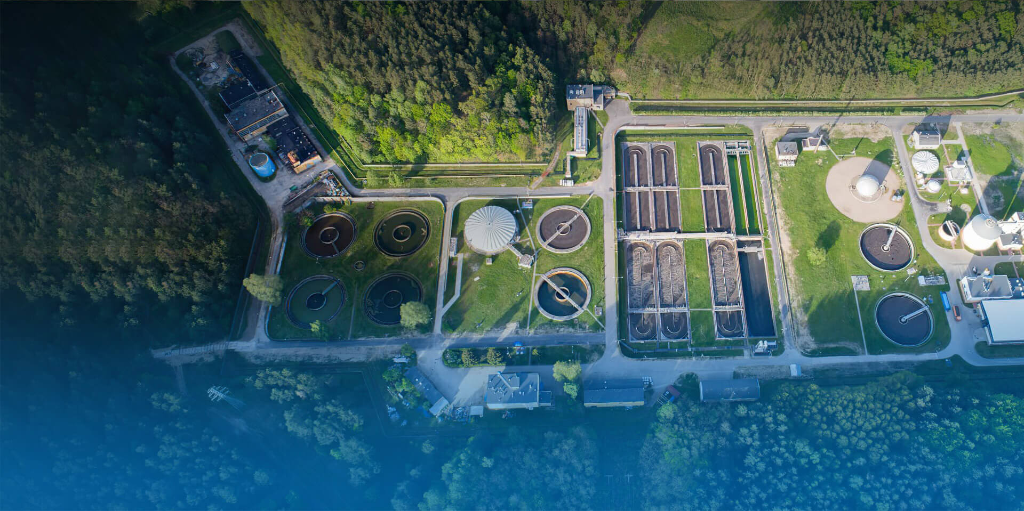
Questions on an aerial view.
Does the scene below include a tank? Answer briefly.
Yes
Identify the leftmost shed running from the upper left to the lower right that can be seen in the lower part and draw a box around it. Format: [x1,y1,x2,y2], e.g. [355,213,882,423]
[404,365,445,406]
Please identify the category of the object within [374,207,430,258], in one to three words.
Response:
storage tank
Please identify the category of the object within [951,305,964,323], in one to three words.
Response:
vehicle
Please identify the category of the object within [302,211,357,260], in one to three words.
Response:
storage tank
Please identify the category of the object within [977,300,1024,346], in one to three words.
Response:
building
